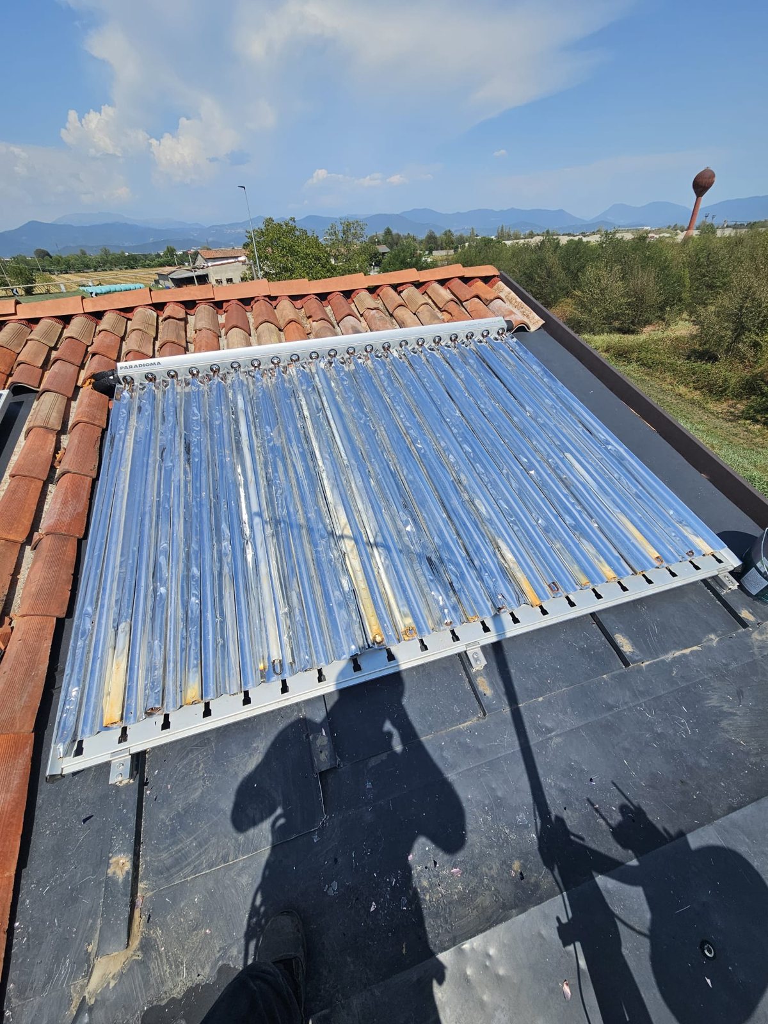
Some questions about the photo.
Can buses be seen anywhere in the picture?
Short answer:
No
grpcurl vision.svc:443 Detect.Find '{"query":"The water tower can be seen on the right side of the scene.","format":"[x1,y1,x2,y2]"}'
[682,160,718,233]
